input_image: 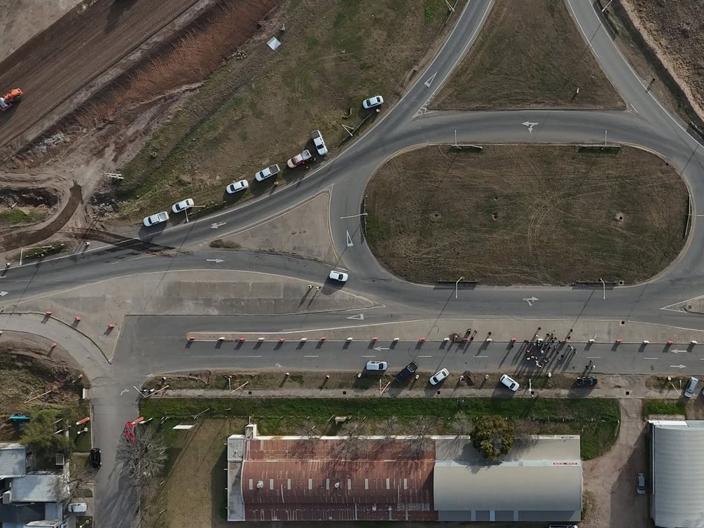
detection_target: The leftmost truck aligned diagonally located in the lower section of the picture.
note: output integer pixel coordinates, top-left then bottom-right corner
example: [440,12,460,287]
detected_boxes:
[394,361,418,383]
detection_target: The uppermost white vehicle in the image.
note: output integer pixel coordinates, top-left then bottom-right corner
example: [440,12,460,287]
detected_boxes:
[361,95,383,107]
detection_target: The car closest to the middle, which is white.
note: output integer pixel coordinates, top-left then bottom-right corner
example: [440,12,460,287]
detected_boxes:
[325,271,347,283]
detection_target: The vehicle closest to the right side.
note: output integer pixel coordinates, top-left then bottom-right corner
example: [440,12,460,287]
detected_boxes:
[685,377,697,397]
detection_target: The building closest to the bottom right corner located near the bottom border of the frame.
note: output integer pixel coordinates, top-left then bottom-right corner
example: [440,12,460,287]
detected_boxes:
[644,414,704,528]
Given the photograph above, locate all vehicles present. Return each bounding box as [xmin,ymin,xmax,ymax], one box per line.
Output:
[325,271,347,283]
[0,89,18,110]
[141,211,166,225]
[86,448,99,469]
[577,377,598,387]
[365,361,385,371]
[361,95,383,107]
[123,423,136,443]
[498,375,519,391]
[309,130,326,156]
[253,163,279,181]
[66,504,86,515]
[287,149,312,168]
[394,361,418,383]
[226,179,247,193]
[171,198,193,213]
[685,377,697,397]
[637,474,645,493]
[428,368,449,387]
